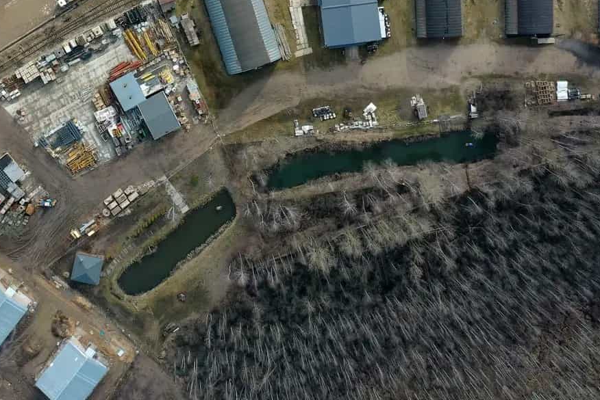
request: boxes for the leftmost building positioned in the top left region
[111,71,147,111]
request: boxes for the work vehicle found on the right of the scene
[412,96,425,116]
